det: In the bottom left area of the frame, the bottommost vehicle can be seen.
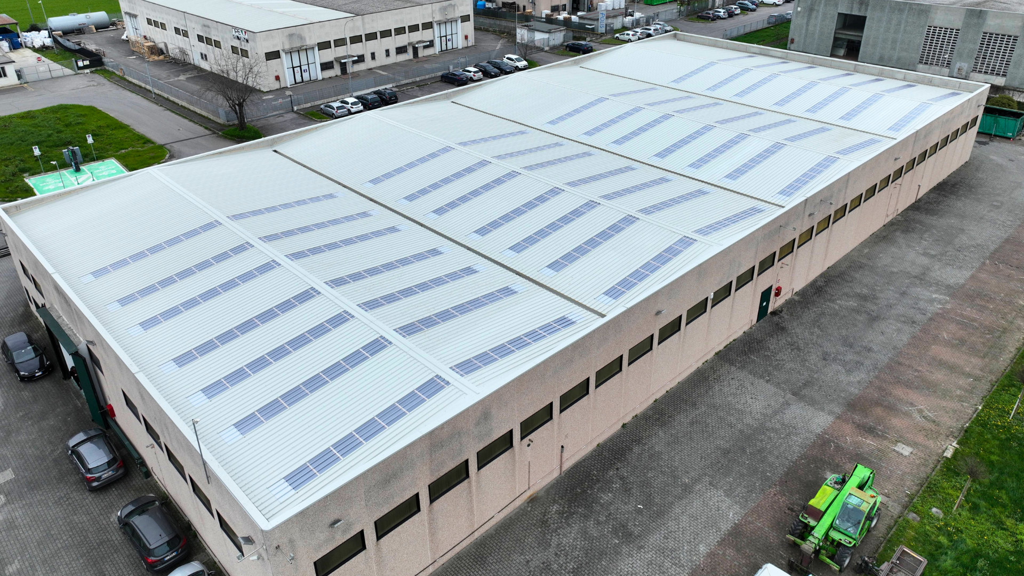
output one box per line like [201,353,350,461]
[162,549,227,576]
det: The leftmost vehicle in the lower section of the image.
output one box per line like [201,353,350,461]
[0,322,54,376]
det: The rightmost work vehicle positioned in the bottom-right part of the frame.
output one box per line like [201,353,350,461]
[776,457,889,576]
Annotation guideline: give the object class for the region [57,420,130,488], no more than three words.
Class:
car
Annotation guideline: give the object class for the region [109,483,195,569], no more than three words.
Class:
car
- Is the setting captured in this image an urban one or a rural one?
urban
